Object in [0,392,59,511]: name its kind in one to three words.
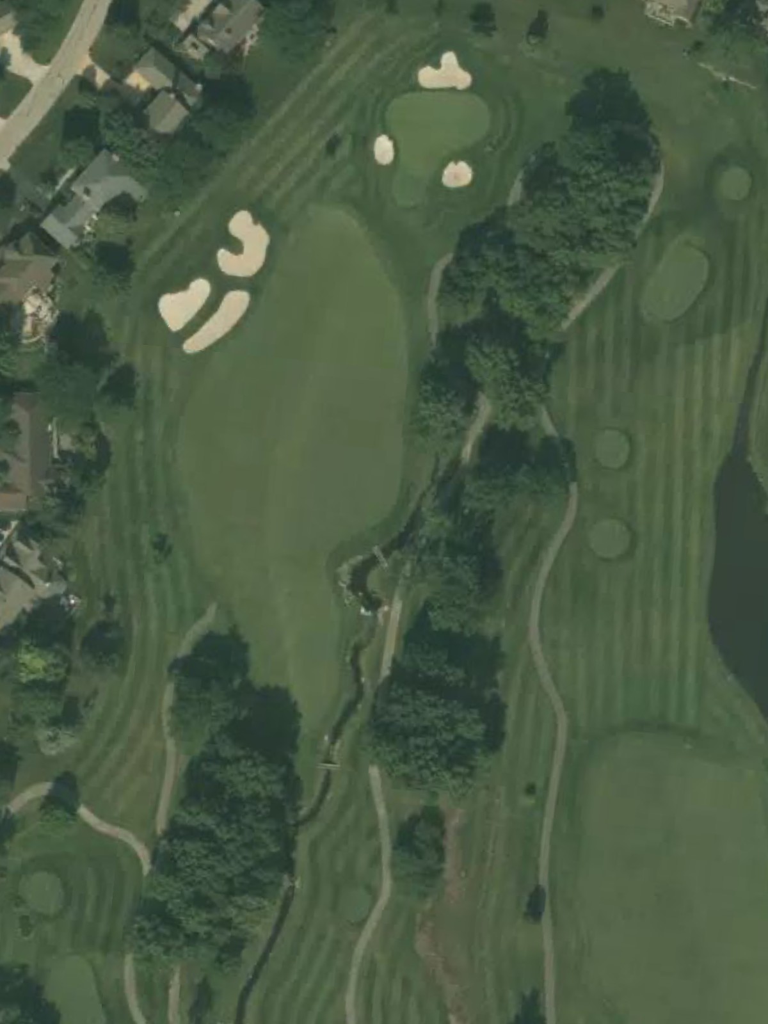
house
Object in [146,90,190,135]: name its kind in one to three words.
house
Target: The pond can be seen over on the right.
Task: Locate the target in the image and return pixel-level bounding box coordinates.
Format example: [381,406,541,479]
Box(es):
[709,318,768,726]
